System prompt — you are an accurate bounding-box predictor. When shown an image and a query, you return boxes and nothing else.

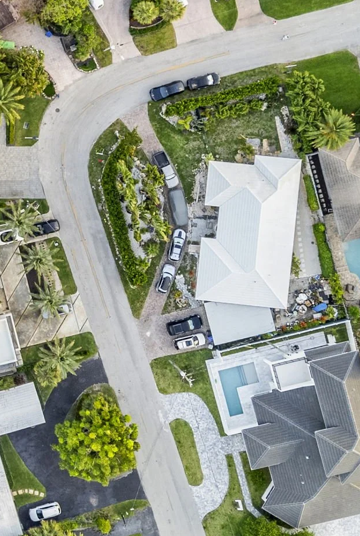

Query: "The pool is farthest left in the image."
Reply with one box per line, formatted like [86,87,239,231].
[218,363,259,416]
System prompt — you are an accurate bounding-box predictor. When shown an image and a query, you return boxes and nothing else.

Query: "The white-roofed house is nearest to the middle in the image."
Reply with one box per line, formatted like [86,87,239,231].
[192,155,302,345]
